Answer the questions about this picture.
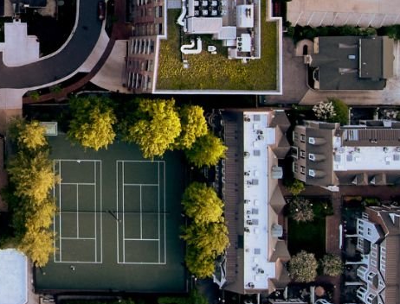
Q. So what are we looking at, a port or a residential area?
residential area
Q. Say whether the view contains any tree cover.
Yes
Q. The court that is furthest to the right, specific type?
tennis court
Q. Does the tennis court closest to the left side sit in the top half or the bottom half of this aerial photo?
bottom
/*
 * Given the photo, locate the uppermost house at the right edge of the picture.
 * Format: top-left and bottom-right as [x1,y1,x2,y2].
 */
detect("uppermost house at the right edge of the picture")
[294,36,394,90]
